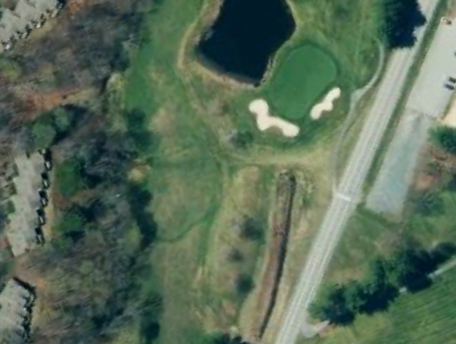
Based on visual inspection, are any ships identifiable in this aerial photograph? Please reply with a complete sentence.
No, the picture doesn't show any ship.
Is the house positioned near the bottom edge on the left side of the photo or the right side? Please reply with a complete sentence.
You can find the house positioned near the bottom edge on the left side of the picture.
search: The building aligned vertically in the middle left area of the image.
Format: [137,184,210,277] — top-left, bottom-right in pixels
[6,153,50,256]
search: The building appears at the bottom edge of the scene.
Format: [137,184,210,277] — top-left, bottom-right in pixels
[0,279,34,344]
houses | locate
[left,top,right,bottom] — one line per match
[0,279,34,344]
[0,0,61,54]
[6,153,50,256]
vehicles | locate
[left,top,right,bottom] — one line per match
[444,83,454,90]
[448,75,456,83]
